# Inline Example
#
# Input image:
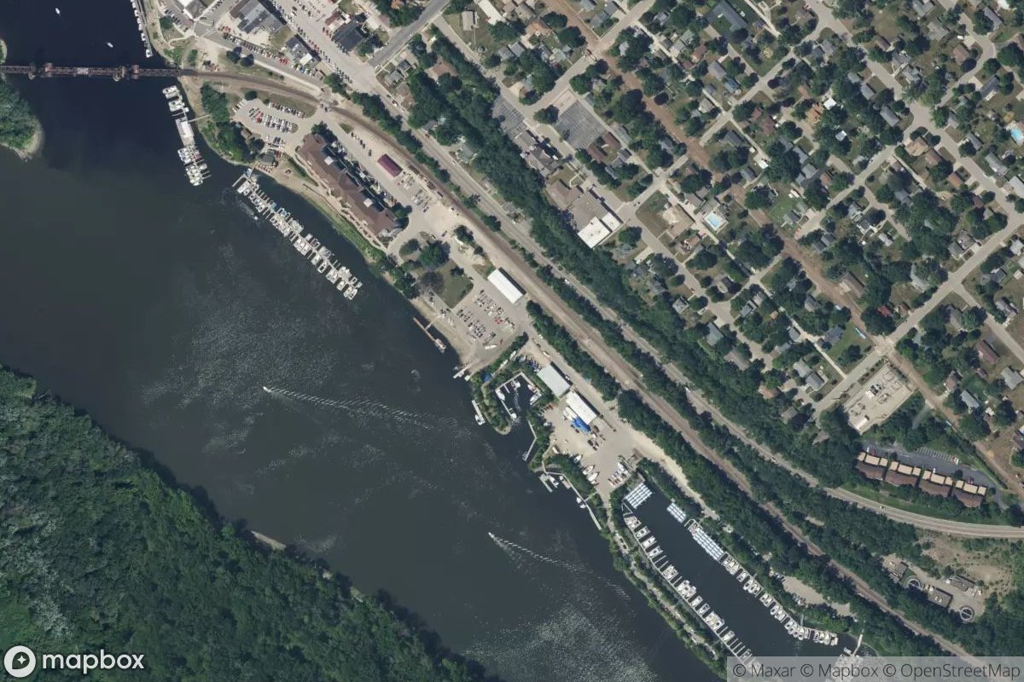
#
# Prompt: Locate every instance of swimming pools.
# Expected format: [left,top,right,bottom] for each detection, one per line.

[702,210,730,231]
[1005,120,1024,149]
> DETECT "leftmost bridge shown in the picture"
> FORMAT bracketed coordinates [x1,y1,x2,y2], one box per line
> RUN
[0,61,184,83]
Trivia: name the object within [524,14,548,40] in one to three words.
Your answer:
house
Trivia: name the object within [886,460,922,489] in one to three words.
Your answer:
building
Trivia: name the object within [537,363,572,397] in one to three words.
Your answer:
shed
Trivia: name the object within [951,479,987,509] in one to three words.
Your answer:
building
